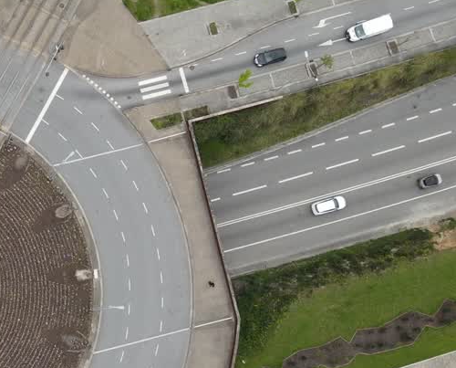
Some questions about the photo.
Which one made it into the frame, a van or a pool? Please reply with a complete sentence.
I can see a van in this picture.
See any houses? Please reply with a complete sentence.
No, I find no house anywhere in the image.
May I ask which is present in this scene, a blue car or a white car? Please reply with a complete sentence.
Visible in the photo is a white car.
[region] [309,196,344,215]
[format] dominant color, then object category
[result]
white car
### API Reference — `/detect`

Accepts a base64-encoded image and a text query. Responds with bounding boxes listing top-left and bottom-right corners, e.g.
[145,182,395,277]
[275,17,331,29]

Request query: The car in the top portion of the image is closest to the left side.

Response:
[252,48,287,67]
